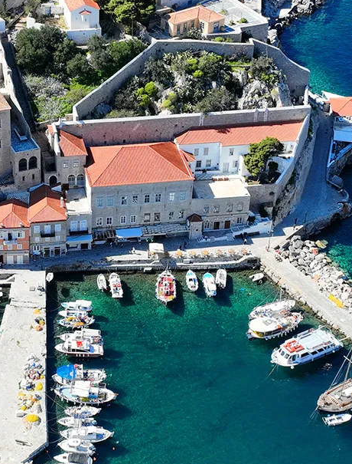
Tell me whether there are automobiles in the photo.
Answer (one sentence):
No, this view has no automobile in it.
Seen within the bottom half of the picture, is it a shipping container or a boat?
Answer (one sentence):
You can see a boat within the bottom half of the picture.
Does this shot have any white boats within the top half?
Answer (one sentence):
No, no white boat is visible within the top half.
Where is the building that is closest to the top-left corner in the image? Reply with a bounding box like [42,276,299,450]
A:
[59,0,102,43]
